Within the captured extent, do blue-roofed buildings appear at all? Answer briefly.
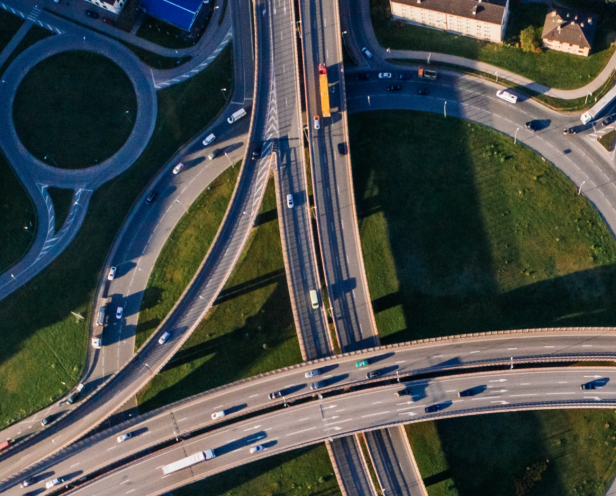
Yes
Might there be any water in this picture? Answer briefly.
No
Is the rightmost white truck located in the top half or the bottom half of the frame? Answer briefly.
top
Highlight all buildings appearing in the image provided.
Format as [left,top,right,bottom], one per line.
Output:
[542,10,597,57]
[138,0,212,37]
[389,0,509,46]
[79,0,126,16]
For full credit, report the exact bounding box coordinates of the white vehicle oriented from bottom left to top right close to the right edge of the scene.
[578,84,616,121]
